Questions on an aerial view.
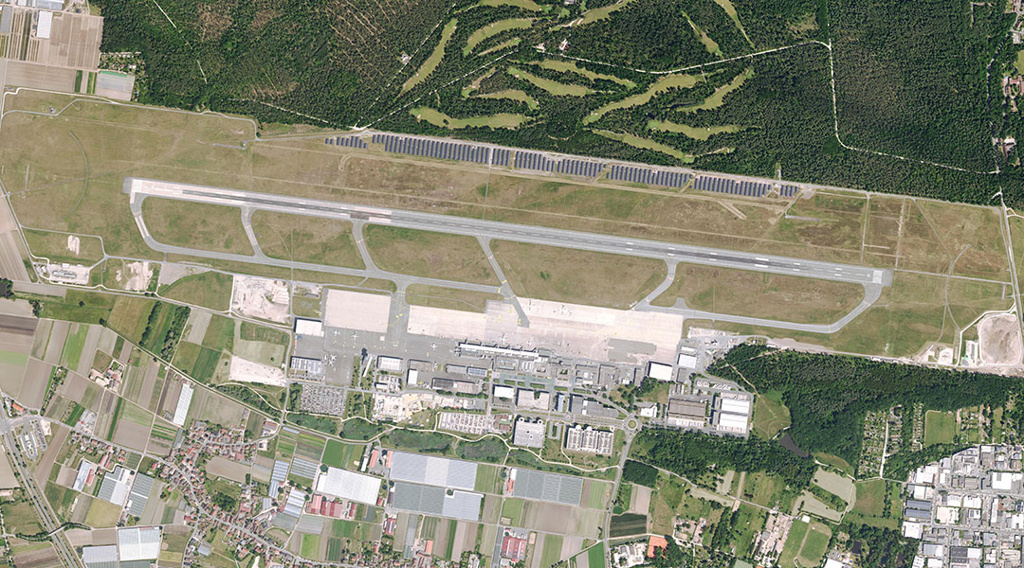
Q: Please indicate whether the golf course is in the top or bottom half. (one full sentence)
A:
Seen from above, the golf course lies in the top half of the view.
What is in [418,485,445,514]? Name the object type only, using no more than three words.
greenhouse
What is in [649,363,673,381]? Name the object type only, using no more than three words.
hangar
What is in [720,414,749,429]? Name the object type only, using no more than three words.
building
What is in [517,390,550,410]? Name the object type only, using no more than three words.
building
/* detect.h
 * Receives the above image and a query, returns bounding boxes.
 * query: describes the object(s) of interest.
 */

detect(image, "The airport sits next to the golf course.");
[122,176,893,387]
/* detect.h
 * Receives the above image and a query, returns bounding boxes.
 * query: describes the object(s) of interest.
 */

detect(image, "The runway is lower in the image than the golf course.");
[132,177,882,285]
